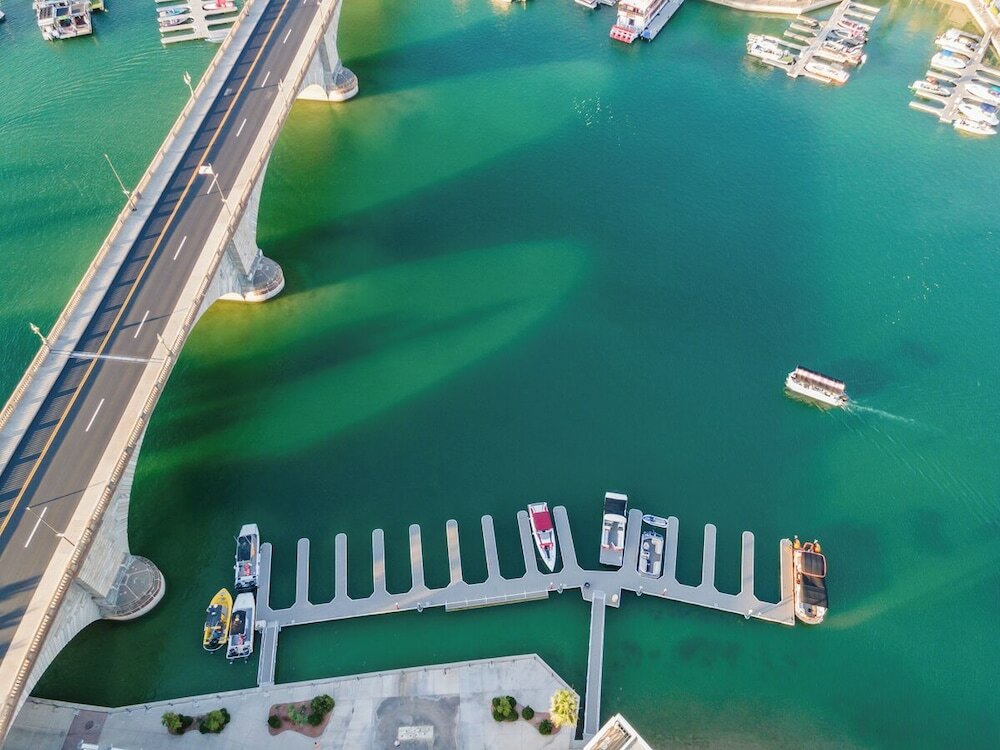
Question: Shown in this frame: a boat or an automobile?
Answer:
boat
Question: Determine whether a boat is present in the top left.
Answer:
Yes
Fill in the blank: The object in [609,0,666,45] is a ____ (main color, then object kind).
white ship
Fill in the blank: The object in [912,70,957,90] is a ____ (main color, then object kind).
white boat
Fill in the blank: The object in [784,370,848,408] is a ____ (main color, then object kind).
white boat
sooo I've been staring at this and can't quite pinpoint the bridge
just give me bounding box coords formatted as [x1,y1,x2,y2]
[0,0,357,750]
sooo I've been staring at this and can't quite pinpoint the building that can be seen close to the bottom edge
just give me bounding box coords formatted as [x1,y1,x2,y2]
[582,713,650,750]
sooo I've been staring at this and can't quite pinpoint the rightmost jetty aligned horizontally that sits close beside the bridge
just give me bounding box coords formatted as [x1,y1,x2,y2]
[253,506,796,629]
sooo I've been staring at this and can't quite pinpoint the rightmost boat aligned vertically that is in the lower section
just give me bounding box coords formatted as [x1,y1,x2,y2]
[794,533,832,626]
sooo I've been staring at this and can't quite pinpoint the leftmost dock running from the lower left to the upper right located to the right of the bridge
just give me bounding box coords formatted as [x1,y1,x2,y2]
[641,0,687,42]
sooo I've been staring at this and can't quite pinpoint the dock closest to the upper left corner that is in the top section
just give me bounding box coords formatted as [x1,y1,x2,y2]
[152,0,242,45]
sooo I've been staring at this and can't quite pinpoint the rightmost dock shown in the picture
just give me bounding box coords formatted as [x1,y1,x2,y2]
[911,33,1000,128]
